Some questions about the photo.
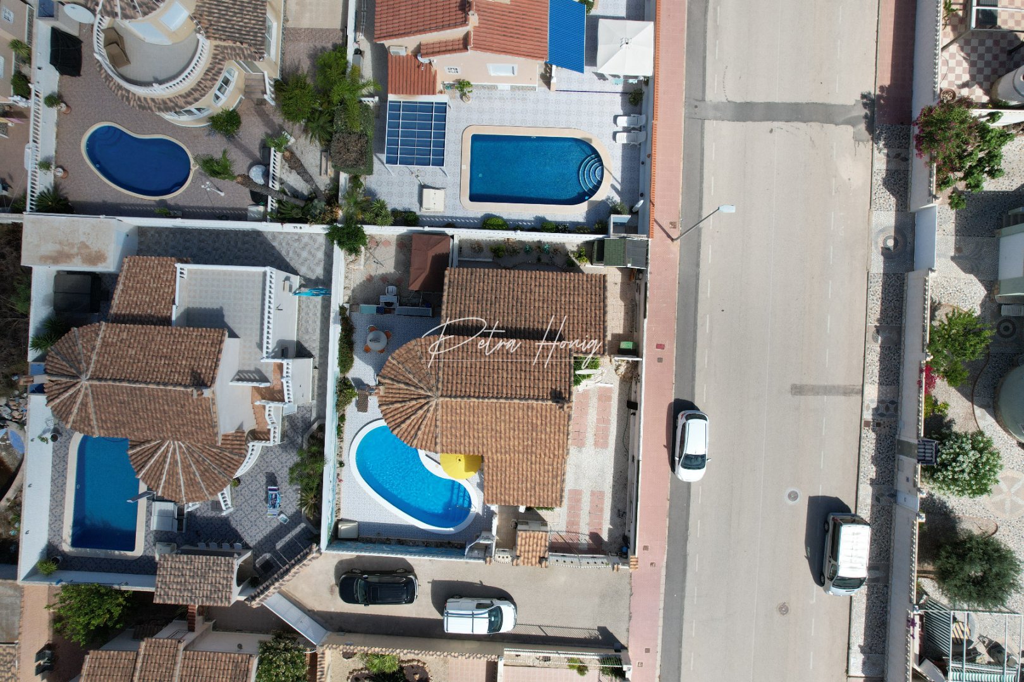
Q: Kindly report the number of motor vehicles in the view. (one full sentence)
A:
The count of motor vehicles comes to 4.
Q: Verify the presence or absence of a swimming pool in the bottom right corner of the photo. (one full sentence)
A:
No, I see no swimming pool in the bottom right corner of the photo.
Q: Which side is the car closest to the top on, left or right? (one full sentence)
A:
It is on the right.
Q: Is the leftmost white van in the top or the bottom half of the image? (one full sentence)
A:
Seen from above, the leftmost white van lies in the bottom half of the view.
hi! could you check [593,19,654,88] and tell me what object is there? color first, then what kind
white gazebo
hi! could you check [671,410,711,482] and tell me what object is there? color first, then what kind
white car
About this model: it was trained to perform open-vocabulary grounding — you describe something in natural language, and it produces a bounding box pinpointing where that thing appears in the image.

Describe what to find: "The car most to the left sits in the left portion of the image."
[339,567,418,610]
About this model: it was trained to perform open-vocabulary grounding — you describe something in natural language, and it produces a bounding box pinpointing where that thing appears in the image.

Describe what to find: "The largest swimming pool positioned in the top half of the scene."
[462,128,612,211]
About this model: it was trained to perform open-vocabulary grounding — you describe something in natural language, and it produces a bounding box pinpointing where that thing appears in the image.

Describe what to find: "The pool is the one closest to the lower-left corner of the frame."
[63,431,143,558]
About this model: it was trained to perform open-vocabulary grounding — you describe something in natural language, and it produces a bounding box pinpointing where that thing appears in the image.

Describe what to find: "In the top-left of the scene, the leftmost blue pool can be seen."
[83,120,193,198]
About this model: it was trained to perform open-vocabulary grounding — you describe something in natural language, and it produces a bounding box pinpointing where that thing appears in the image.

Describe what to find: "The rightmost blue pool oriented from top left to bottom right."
[349,418,480,536]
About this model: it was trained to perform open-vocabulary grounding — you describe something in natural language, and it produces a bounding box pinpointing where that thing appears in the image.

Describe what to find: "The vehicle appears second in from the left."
[443,594,518,637]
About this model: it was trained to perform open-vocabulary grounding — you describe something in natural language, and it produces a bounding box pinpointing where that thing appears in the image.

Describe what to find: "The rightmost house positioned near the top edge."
[373,0,551,103]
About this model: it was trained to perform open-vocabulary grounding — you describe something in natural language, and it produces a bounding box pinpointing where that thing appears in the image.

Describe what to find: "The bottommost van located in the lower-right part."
[824,514,871,593]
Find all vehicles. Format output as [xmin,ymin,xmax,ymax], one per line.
[339,567,418,610]
[824,514,871,593]
[671,410,711,482]
[443,594,518,637]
